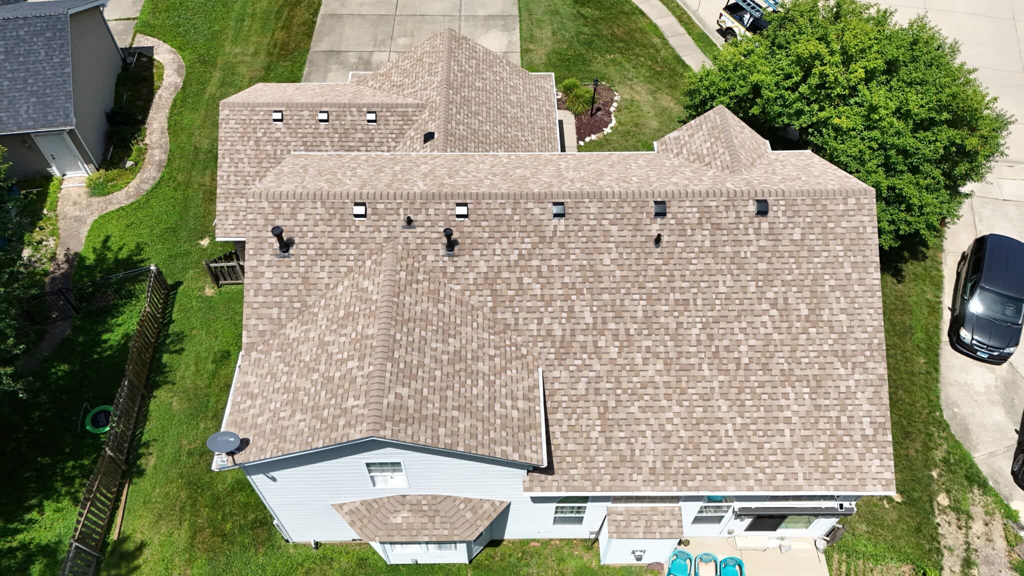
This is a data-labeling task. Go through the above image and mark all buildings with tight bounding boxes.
[0,4,124,180]
[209,28,897,567]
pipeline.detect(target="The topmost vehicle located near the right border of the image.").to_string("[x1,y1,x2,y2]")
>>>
[948,238,1024,369]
